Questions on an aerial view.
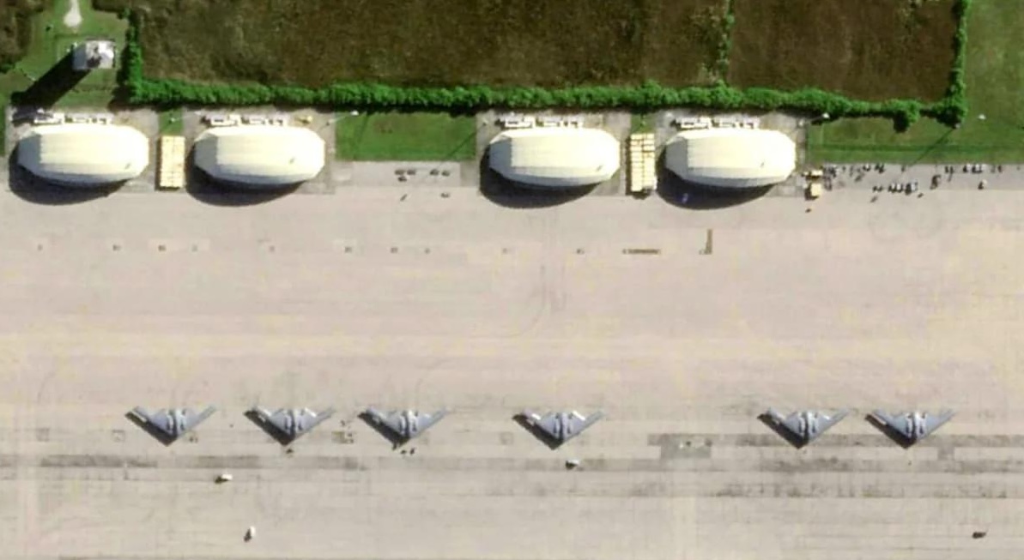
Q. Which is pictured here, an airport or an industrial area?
airport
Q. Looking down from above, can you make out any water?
No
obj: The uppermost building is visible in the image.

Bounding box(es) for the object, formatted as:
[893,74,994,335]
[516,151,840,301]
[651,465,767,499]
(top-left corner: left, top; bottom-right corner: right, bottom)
[72,38,113,71]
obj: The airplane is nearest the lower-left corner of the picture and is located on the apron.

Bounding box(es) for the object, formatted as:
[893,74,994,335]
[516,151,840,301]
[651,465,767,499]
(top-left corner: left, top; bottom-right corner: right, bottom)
[133,403,219,438]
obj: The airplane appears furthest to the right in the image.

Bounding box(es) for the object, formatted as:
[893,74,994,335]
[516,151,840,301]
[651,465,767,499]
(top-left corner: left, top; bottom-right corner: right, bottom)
[875,406,956,440]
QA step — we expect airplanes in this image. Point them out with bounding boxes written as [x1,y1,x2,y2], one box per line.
[250,402,335,438]
[875,406,956,440]
[521,407,605,442]
[767,407,849,441]
[365,403,449,438]
[133,403,219,438]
